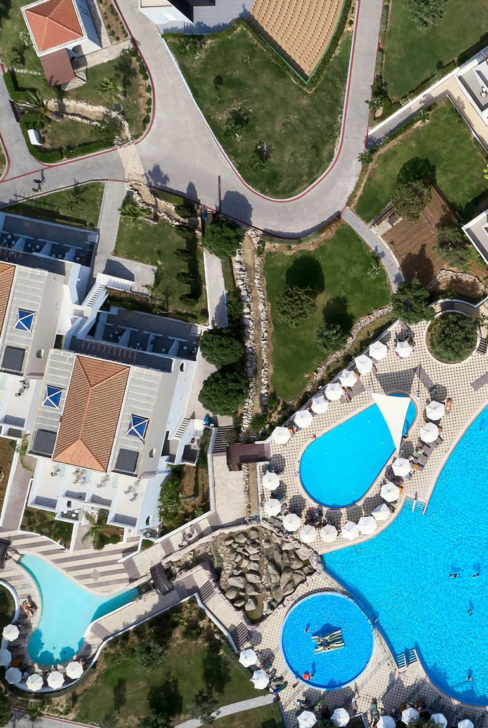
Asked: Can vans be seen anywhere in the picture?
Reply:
No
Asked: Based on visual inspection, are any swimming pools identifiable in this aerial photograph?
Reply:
Yes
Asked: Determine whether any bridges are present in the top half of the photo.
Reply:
No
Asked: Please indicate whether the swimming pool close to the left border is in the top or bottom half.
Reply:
bottom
